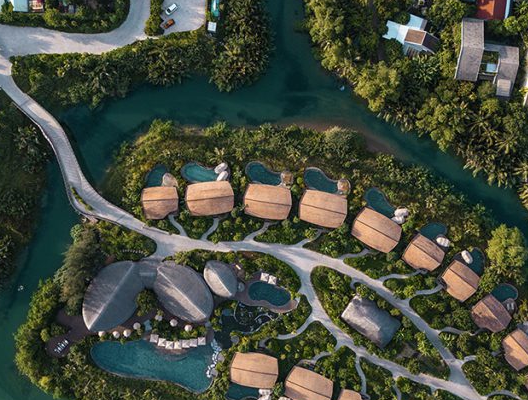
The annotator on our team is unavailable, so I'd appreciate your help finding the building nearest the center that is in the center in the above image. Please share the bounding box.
[244,185,292,220]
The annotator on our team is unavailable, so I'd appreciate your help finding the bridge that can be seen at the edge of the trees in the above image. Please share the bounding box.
[28,103,166,250]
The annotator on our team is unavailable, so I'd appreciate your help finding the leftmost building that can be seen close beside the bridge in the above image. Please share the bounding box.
[82,261,141,332]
